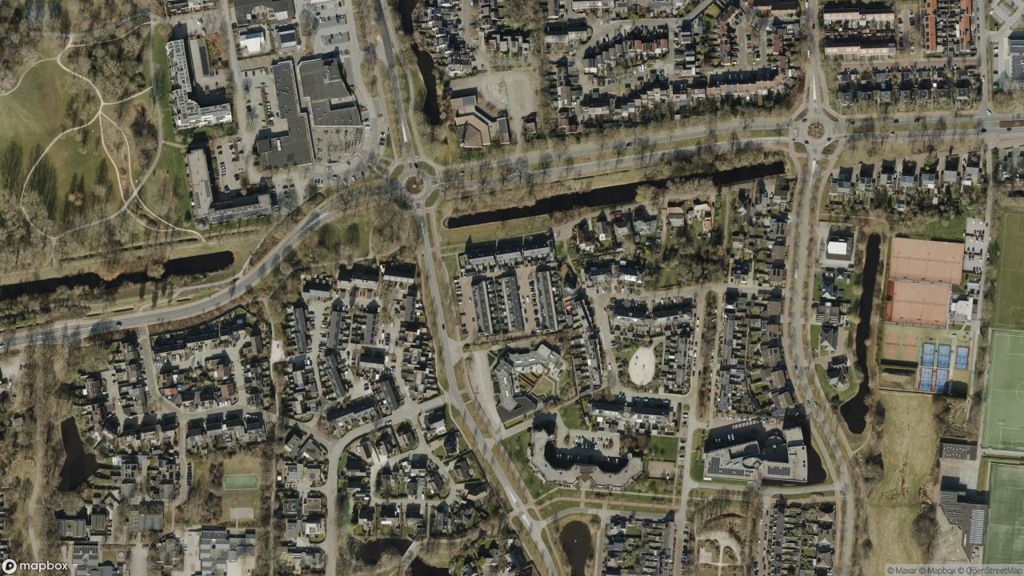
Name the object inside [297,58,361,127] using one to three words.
building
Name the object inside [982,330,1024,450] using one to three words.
soccer field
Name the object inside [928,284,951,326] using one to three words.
tennis court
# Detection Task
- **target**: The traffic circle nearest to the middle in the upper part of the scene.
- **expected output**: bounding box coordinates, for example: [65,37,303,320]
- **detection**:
[390,161,439,207]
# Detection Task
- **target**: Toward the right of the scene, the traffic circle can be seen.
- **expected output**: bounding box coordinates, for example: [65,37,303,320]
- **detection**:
[794,108,839,154]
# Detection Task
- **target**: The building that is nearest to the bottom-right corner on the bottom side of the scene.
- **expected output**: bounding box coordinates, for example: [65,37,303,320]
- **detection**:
[939,490,988,563]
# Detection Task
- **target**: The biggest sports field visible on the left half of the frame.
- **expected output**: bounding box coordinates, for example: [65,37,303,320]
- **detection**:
[222,453,262,524]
